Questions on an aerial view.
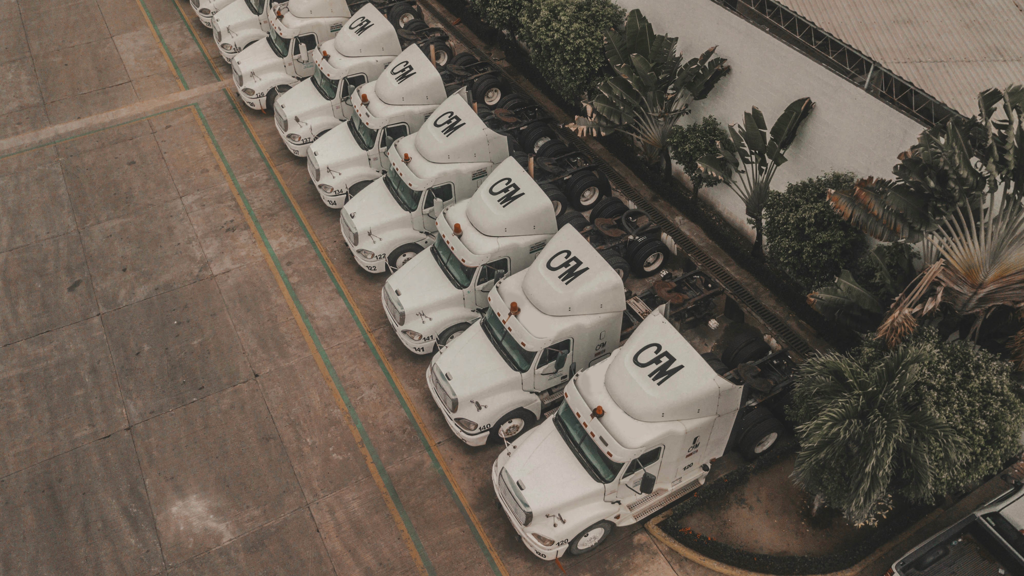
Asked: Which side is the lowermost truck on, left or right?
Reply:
right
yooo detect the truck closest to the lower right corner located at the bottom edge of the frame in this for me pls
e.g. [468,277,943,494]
[885,468,1024,576]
